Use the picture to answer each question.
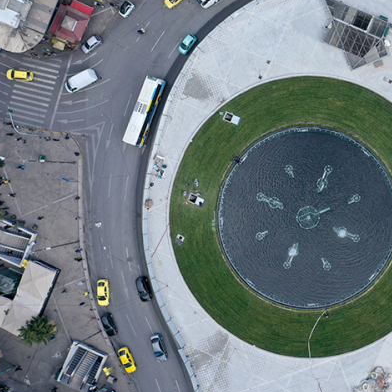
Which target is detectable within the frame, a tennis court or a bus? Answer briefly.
bus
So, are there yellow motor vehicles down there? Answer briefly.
Yes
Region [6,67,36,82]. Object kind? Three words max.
car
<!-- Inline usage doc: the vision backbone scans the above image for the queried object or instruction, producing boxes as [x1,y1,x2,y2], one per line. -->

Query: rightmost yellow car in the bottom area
[117,345,138,373]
